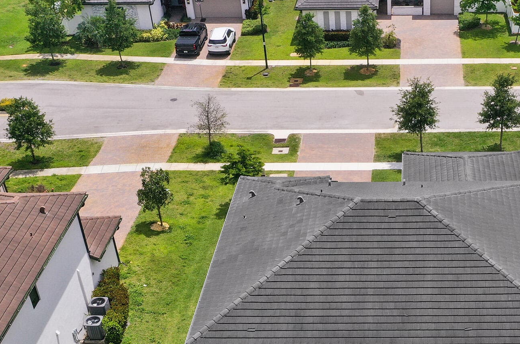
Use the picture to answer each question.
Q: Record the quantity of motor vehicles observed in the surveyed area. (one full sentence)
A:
The number of motor vehicles here is 2.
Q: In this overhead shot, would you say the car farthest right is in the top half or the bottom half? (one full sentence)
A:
It is in the top half that the car farthest right appears.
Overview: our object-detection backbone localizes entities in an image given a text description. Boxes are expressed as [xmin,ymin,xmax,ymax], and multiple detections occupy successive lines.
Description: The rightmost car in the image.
[208,23,238,50]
